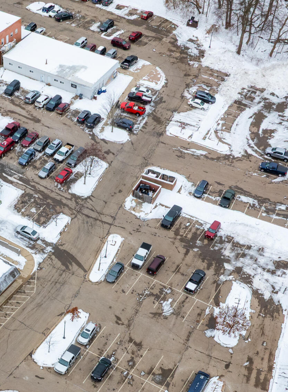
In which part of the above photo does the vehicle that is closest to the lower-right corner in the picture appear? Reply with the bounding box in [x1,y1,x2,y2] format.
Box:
[188,371,210,392]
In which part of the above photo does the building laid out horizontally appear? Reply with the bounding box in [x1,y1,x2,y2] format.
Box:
[3,33,119,99]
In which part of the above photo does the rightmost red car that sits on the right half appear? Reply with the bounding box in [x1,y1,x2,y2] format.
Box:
[206,219,223,239]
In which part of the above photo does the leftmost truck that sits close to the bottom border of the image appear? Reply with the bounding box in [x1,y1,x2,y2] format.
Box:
[55,342,81,374]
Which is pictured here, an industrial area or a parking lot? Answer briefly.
parking lot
